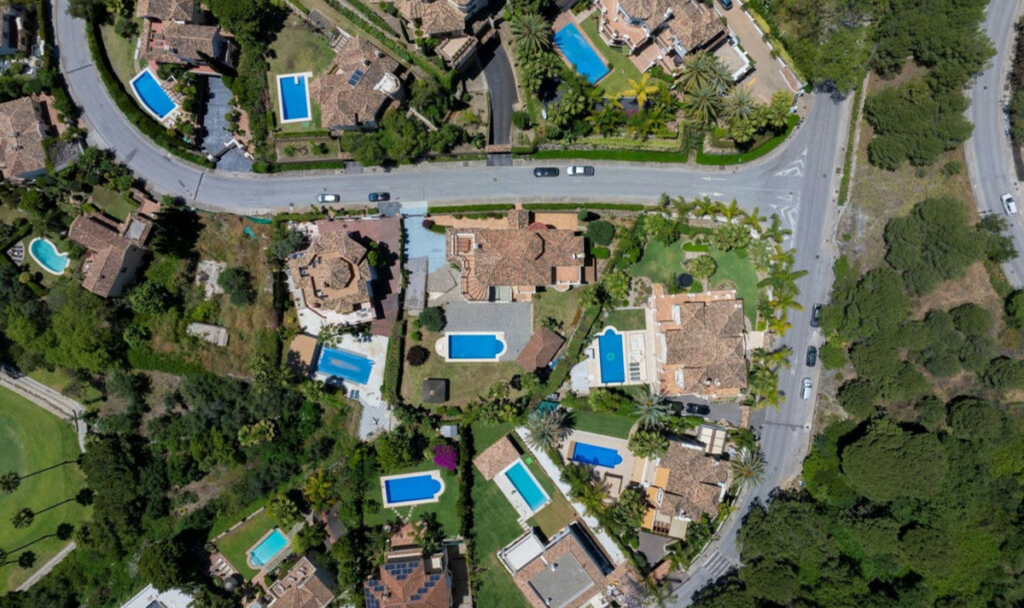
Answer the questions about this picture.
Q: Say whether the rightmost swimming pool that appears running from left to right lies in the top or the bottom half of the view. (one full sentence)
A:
The rightmost swimming pool that appears running from left to right sits in the bottom half of the picture.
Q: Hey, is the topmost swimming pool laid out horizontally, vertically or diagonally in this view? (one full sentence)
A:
In this picture, the topmost swimming pool lies diagonally.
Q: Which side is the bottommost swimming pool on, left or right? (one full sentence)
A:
It is on the left.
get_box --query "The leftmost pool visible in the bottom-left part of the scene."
[248,527,289,569]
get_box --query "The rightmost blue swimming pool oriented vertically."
[596,326,627,386]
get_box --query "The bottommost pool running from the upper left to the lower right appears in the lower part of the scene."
[503,460,549,514]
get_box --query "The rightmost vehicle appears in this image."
[999,192,1016,216]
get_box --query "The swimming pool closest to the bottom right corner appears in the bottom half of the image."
[571,441,624,470]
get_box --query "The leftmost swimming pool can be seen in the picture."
[29,237,69,275]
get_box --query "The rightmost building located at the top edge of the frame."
[592,0,753,83]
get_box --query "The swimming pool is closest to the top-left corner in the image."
[128,66,180,121]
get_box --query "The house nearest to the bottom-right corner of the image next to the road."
[638,437,730,540]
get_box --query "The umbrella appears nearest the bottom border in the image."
[221,580,236,594]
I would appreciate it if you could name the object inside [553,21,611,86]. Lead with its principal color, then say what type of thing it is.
blue swimming pool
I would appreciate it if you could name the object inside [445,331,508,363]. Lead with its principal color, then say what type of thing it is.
blue swimming pool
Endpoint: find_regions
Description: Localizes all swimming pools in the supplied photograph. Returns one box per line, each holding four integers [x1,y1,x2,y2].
[128,66,180,121]
[445,331,508,363]
[571,441,624,470]
[248,527,289,569]
[553,21,611,86]
[316,346,375,387]
[596,326,627,386]
[503,460,549,514]
[29,237,69,275]
[381,470,445,508]
[276,73,311,123]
